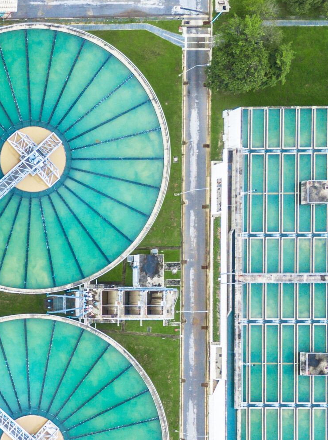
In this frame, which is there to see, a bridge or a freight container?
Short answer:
bridge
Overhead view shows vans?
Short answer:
No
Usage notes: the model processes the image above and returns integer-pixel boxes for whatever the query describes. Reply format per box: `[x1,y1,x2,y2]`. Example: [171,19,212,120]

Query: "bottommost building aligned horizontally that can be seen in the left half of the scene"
[73,281,181,327]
